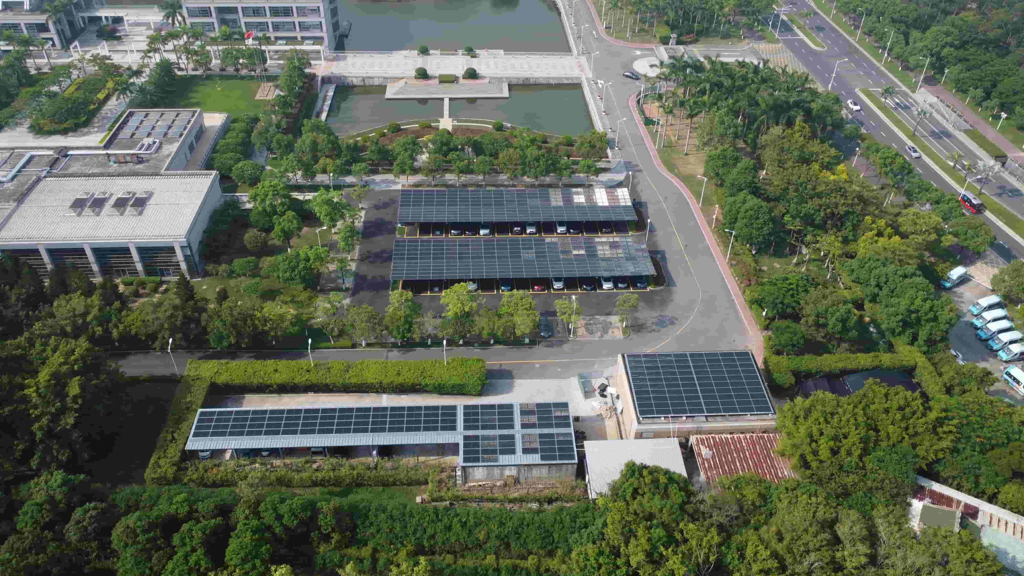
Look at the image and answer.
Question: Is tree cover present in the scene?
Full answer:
Yes, there's tree cover in this view.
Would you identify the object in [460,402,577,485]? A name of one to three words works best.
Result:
shed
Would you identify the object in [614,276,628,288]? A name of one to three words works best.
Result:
vehicle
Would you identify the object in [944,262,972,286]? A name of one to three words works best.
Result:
vehicle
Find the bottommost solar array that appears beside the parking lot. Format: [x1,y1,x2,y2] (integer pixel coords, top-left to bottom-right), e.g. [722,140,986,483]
[624,351,776,418]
